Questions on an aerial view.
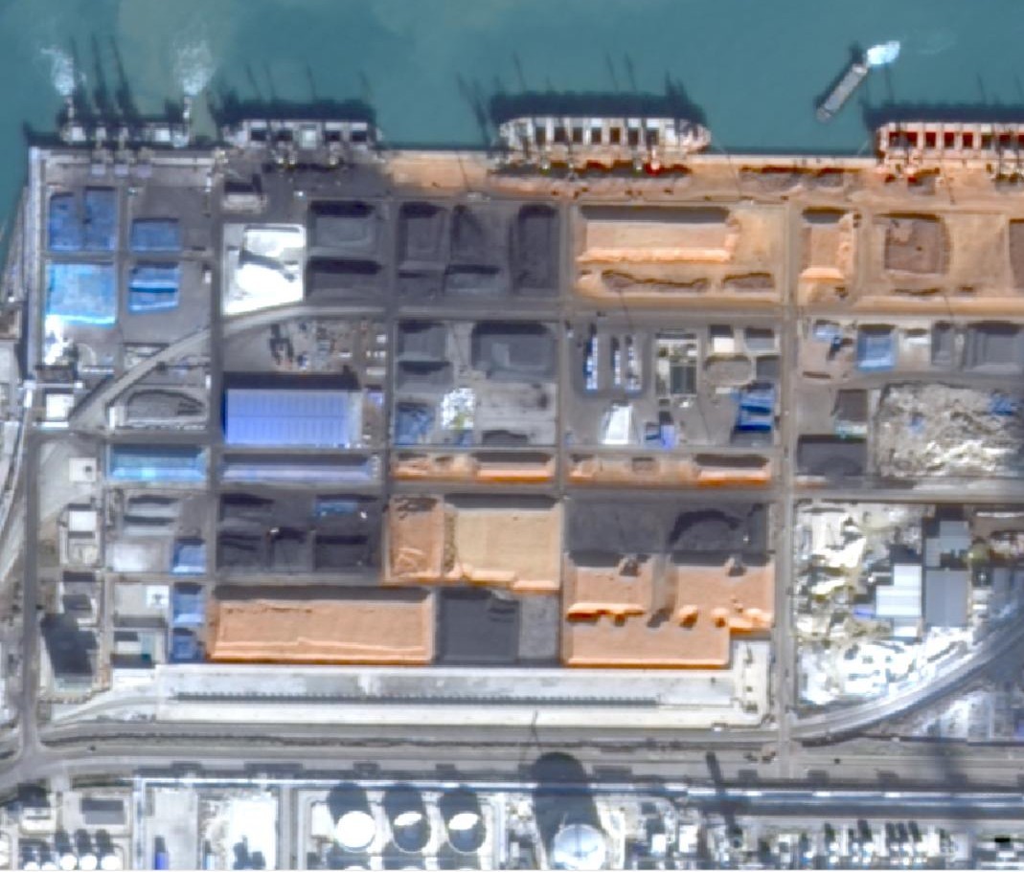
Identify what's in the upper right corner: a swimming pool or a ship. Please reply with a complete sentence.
There is a ship in the upper right corner.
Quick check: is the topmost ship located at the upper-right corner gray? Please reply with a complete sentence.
Yes, the topmost ship located at the upper-right corner appears gray.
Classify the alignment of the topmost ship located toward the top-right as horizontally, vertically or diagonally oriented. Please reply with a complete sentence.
The topmost ship located toward the top-right is laid out diagonally.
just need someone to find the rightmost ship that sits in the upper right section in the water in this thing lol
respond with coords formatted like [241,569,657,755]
[877,119,1024,154]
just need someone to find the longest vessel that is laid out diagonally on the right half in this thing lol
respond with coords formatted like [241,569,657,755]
[820,56,870,114]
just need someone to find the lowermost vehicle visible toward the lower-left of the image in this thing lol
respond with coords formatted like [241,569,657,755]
[155,852,167,869]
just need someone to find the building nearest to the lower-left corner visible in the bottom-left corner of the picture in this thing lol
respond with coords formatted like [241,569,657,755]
[23,810,55,832]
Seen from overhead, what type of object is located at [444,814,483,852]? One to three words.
storage tank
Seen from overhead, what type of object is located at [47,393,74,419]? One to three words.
building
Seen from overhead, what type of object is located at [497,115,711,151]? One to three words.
ship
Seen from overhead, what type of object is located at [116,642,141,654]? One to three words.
shed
